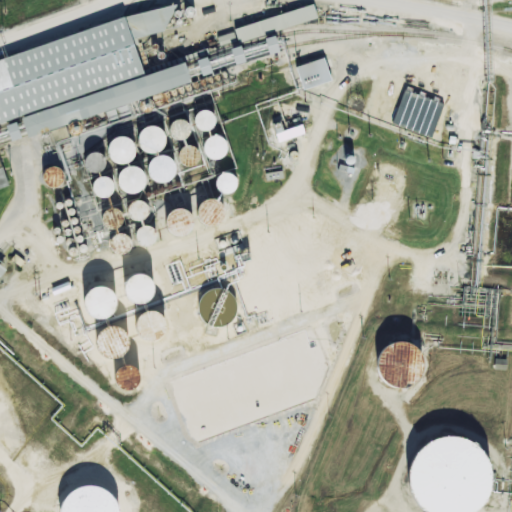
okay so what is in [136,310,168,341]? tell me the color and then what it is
white storage tank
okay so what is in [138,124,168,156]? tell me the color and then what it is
white storage tank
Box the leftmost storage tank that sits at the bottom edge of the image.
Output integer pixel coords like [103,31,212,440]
[60,483,120,512]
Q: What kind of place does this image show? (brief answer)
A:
industrial area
